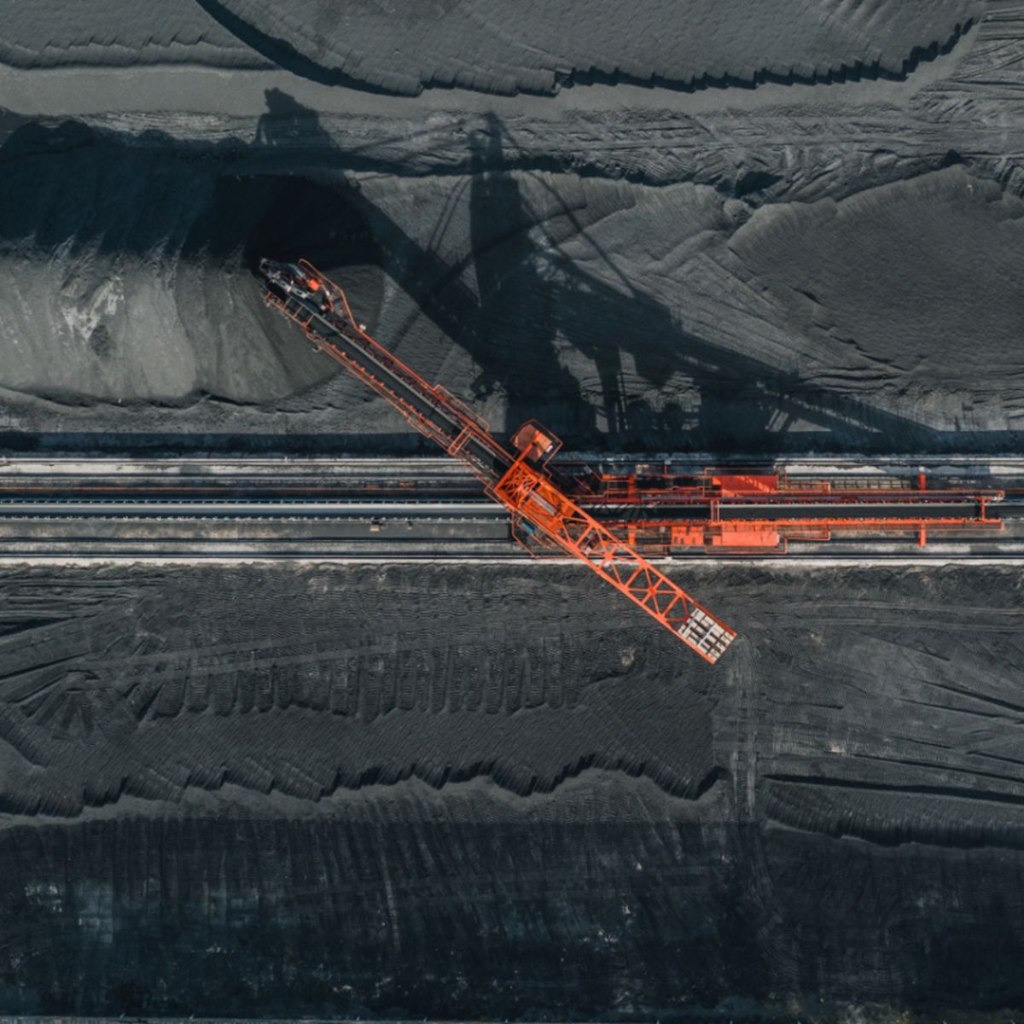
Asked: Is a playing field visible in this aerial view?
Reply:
No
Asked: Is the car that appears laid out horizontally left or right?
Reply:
right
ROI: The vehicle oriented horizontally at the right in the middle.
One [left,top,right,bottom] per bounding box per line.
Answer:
[566,460,1024,558]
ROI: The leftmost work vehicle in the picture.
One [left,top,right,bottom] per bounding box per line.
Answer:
[261,258,735,668]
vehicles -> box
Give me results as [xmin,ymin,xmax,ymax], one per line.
[566,460,1024,558]
[261,258,735,668]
